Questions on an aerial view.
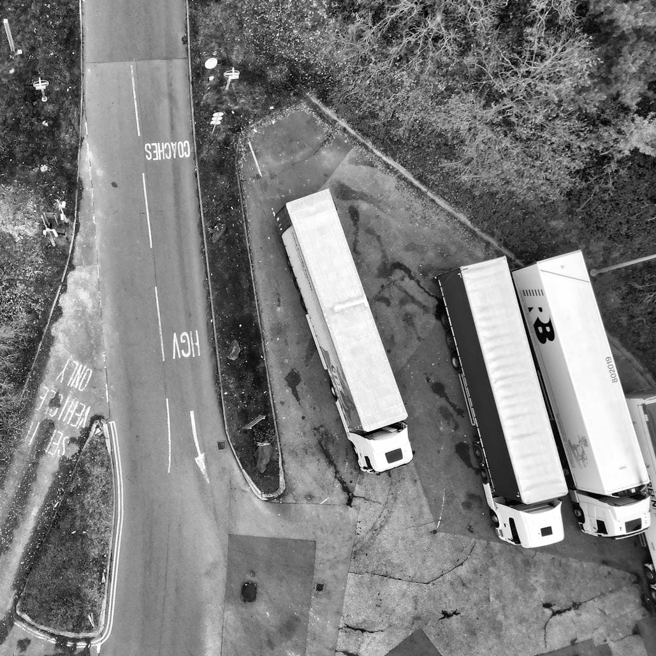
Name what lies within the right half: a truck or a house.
truck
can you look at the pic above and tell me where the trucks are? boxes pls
[510,251,650,542]
[435,258,569,552]
[626,393,656,603]
[275,190,418,478]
